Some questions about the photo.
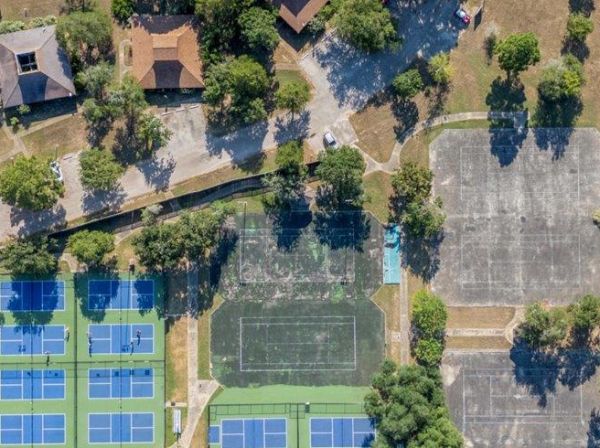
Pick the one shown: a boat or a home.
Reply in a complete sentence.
Visible in the photo is a home.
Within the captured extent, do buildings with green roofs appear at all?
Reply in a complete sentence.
No, I can see no building with a green roof in this picture.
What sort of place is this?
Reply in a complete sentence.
What you see here is a sports ground.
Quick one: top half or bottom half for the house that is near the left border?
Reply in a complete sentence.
The top half of the photo is where the house that is near the left border is.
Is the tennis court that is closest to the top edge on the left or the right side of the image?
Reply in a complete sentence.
The tennis court that is closest to the top edge sits on the right side.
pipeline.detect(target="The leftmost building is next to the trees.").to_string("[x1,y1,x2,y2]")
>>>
[0,27,76,108]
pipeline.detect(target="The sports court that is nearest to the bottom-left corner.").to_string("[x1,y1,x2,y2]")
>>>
[0,413,65,448]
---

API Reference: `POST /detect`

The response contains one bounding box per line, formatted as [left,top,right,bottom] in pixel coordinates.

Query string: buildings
[132,15,205,89]
[0,27,76,108]
[264,0,328,33]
